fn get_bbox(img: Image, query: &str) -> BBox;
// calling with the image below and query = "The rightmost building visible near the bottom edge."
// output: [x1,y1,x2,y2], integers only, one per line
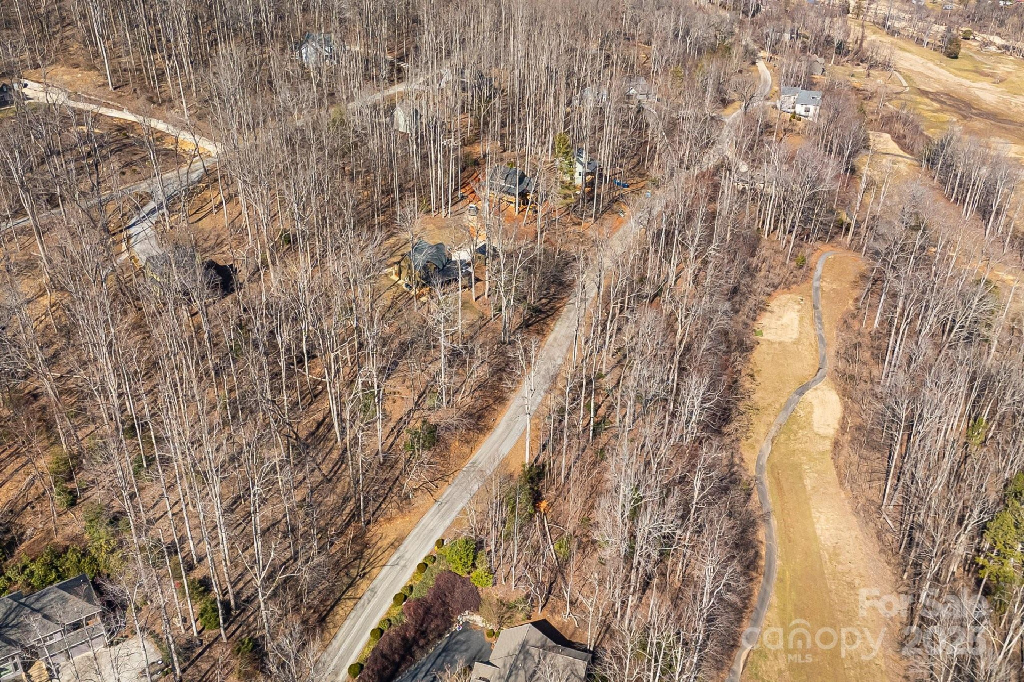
[466,622,593,682]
